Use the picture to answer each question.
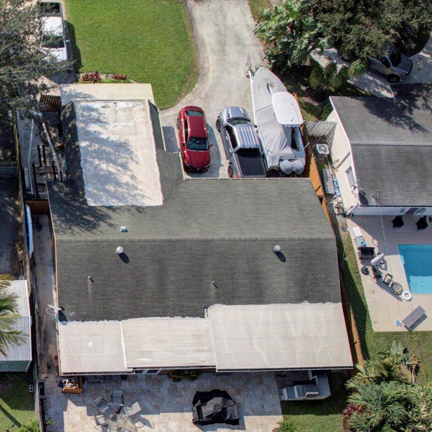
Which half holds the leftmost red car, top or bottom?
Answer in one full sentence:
The top half of the photo is where the leftmost red car is.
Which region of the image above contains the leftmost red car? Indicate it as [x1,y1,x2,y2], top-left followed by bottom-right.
[176,106,219,171]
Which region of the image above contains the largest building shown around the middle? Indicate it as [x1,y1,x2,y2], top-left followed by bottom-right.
[46,84,354,384]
